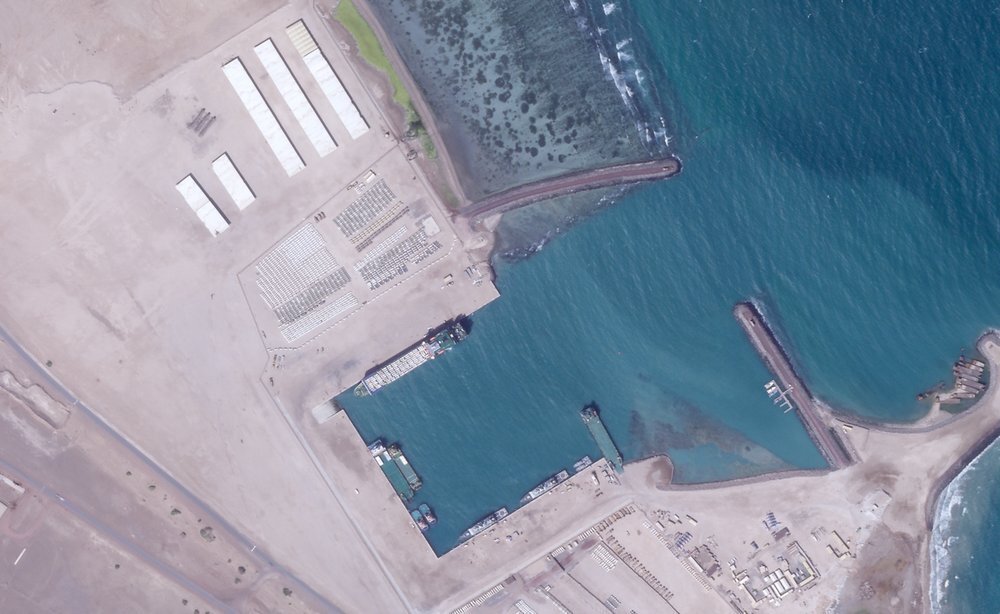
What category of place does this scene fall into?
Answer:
port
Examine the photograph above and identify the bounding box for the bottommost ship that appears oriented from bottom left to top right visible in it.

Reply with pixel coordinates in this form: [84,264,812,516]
[458,508,509,541]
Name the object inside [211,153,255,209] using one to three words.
building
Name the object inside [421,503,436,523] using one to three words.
boat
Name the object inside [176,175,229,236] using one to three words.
building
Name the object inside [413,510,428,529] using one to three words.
boat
